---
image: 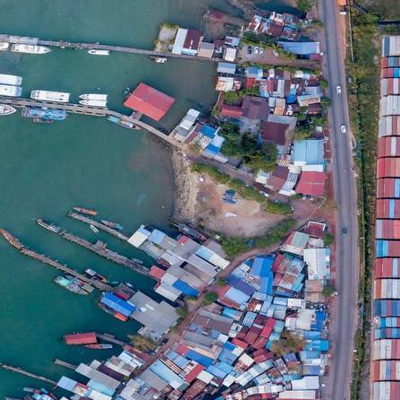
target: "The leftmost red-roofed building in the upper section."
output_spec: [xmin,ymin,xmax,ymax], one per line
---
[127,82,173,125]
